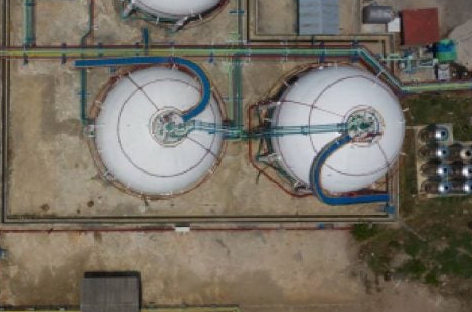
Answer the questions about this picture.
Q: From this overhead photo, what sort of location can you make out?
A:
industrial area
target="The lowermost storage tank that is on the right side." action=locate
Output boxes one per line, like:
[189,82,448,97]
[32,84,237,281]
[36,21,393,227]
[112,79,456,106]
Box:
[245,61,410,208]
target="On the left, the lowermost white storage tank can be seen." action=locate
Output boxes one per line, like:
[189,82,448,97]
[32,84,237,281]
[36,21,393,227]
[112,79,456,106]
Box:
[74,55,247,201]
